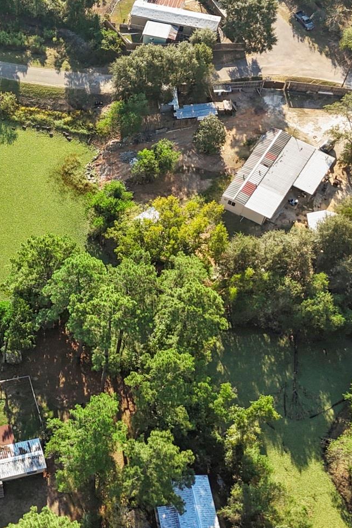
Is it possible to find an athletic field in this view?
No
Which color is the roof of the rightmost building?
white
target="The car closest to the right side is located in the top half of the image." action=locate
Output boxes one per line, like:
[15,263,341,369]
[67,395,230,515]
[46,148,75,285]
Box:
[317,135,337,151]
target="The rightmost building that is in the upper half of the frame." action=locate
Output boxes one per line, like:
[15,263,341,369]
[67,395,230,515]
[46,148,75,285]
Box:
[224,126,331,225]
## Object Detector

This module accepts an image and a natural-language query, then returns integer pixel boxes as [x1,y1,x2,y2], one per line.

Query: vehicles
[293,12,315,29]
[317,135,337,151]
